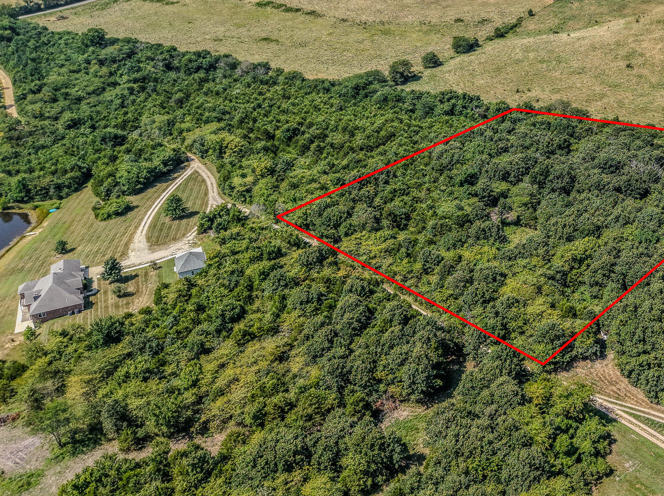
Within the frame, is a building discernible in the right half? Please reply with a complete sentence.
No, there's no building to be seen in the right half.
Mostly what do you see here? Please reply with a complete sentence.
What you mostly see from above here is trees.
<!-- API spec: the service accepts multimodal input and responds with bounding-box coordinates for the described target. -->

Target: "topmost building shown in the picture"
[174,250,208,280]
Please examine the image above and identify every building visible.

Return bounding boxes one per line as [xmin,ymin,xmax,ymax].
[174,250,208,280]
[18,258,88,325]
